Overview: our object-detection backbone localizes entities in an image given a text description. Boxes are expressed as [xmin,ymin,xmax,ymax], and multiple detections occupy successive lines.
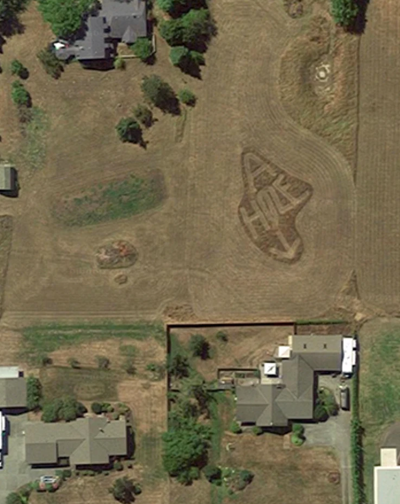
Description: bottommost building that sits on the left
[24,417,126,465]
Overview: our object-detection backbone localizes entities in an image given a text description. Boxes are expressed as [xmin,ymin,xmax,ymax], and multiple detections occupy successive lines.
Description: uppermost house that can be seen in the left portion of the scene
[73,0,145,58]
